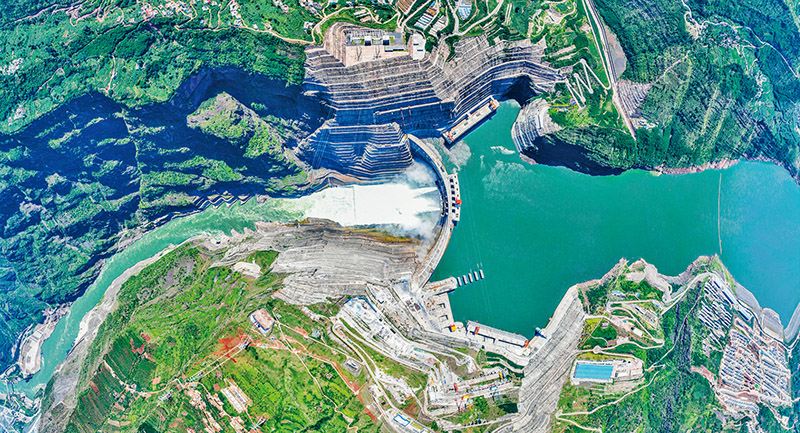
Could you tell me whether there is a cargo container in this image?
No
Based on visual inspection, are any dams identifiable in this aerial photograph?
Yes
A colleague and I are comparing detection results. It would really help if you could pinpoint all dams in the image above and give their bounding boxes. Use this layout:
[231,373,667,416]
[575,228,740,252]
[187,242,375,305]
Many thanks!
[402,130,460,292]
